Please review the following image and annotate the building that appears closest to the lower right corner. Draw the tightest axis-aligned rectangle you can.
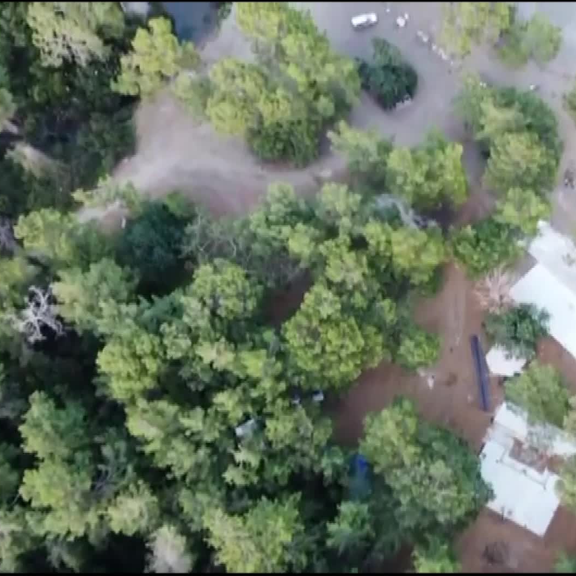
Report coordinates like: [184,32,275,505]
[468,404,576,536]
